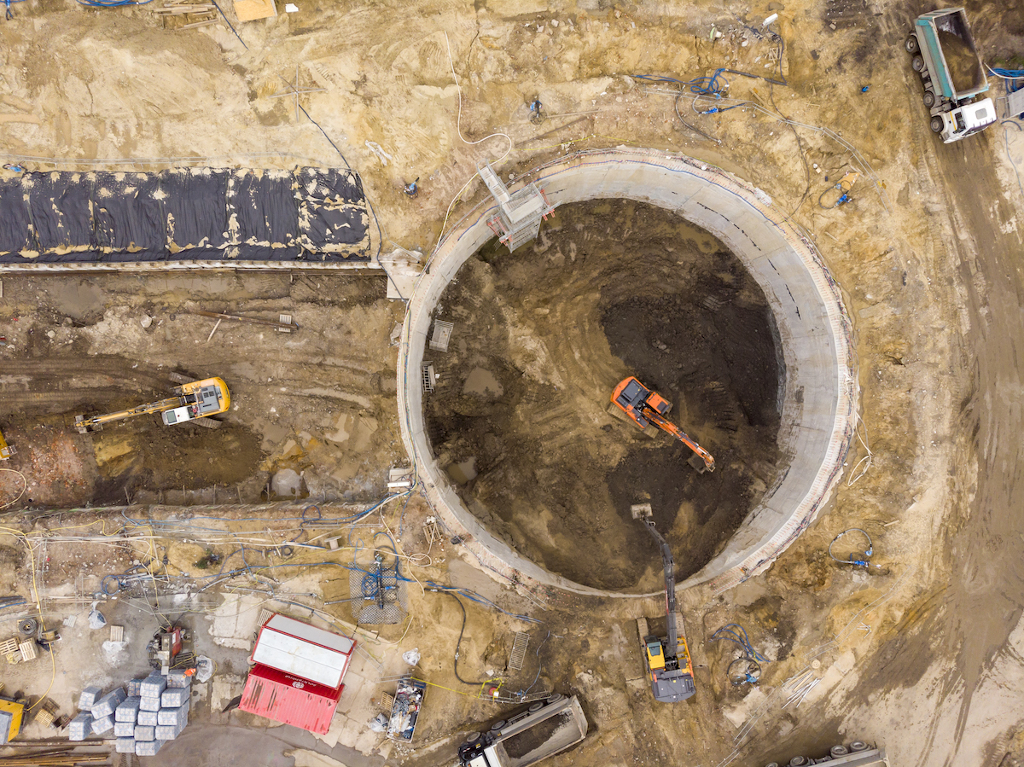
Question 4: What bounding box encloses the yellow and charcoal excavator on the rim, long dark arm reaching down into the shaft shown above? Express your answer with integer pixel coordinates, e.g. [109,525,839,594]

[630,499,699,709]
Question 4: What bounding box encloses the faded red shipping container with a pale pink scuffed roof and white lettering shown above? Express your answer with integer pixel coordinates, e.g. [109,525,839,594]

[239,663,346,736]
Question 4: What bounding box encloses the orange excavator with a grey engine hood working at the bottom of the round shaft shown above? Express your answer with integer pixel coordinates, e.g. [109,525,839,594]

[609,378,724,478]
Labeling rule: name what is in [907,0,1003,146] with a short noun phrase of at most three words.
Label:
truck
